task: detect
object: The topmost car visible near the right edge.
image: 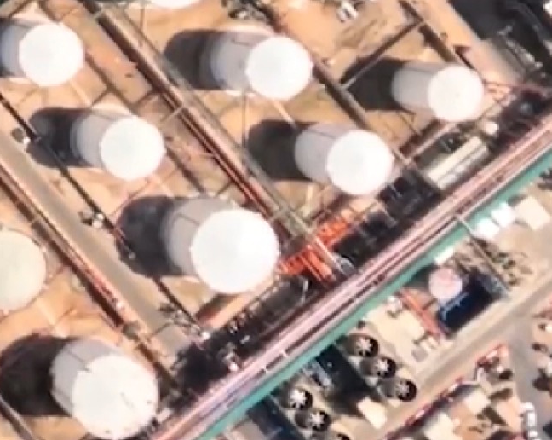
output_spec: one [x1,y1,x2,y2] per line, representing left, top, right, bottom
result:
[521,401,536,424]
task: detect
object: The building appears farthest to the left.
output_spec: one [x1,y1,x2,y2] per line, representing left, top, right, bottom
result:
[351,394,387,428]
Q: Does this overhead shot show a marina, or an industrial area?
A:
industrial area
